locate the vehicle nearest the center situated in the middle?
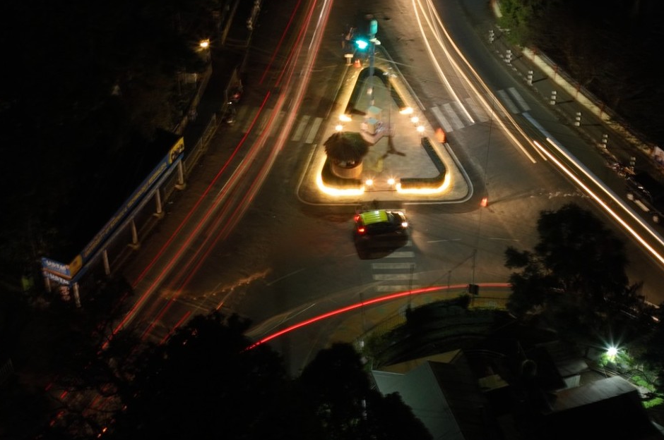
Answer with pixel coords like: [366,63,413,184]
[352,204,411,238]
